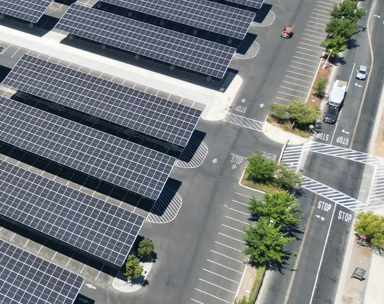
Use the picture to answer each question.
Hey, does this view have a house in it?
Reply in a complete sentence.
No, no house can be seen from above.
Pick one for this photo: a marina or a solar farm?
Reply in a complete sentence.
It's a solar farm.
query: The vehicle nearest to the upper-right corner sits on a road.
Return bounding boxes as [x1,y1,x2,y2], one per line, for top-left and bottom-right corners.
[355,67,368,81]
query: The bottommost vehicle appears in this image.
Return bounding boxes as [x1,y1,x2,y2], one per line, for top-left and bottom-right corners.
[323,104,339,123]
